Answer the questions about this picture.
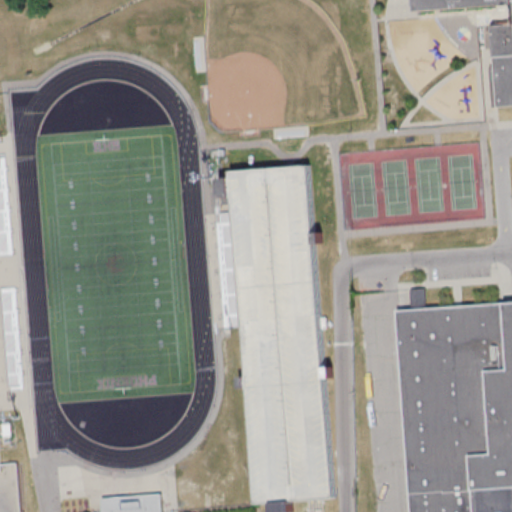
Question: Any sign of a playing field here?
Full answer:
Yes, the frame does contain a playing field.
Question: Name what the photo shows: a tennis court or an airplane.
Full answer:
This aerial view contains a tennis court.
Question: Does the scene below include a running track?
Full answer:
Yes, there's a running track down there.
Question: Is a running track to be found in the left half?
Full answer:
Yes, the scene does show a running track in the left half.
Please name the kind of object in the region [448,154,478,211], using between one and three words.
tennis court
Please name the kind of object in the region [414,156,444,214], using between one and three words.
tennis court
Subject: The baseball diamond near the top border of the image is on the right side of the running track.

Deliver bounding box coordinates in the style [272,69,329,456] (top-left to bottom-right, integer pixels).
[206,0,365,130]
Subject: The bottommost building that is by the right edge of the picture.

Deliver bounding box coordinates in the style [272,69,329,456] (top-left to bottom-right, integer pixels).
[396,287,512,512]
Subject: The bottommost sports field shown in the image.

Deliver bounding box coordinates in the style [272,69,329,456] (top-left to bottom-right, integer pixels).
[38,126,195,404]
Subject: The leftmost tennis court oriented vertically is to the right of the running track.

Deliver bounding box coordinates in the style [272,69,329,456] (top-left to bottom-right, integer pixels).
[348,162,378,220]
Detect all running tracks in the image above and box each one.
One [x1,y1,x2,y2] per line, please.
[13,62,215,466]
